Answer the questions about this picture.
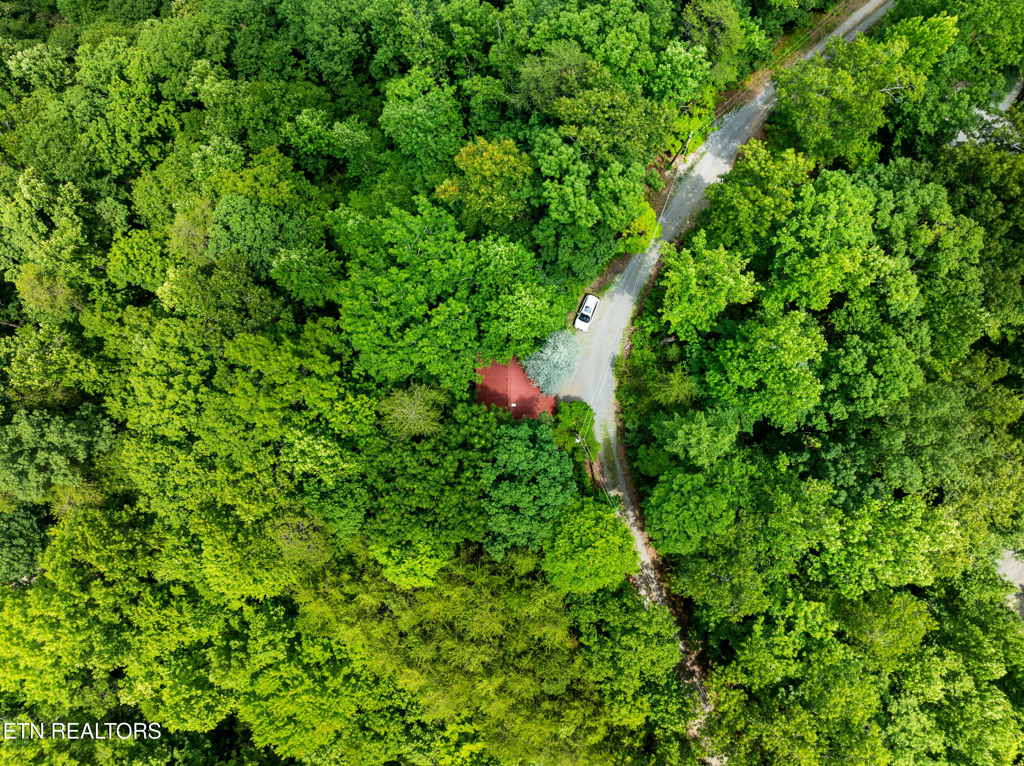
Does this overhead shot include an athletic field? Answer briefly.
No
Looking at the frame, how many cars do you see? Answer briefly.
1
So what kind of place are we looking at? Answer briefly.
forest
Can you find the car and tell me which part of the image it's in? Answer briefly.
center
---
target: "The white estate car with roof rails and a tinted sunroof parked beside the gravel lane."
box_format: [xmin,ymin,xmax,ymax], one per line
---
[575,294,600,332]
